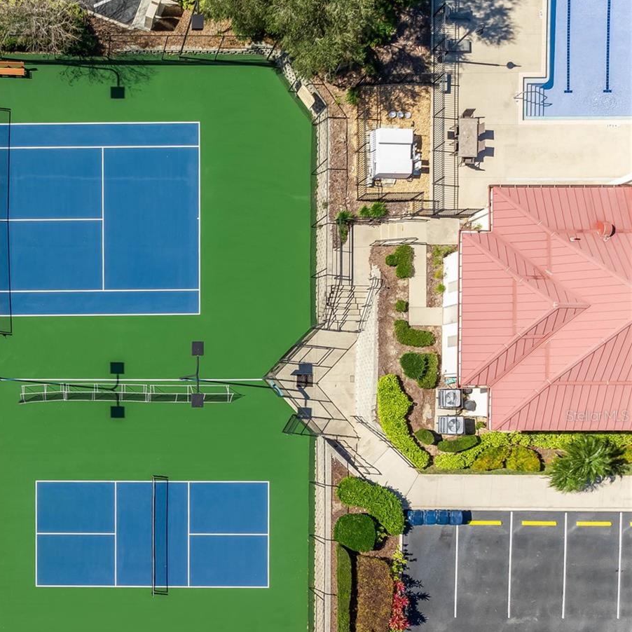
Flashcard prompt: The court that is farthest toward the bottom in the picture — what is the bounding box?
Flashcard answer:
[36,481,269,587]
